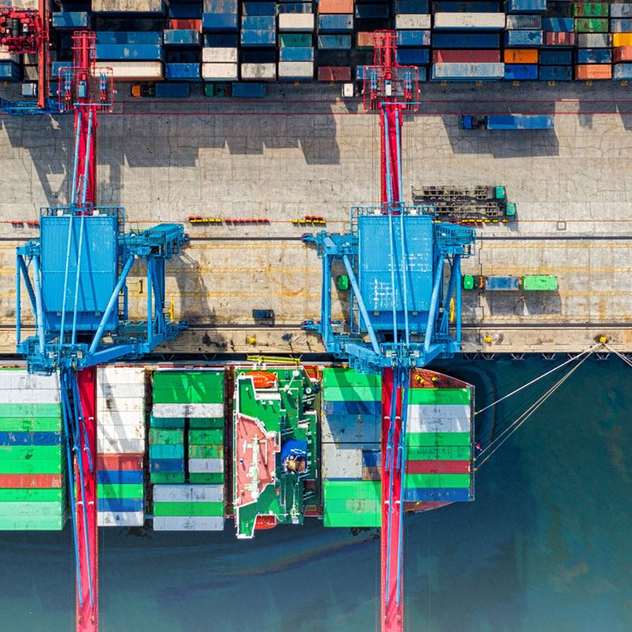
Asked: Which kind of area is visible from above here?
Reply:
port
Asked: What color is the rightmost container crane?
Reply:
blue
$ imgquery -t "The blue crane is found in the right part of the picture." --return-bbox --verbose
[299,30,480,632]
